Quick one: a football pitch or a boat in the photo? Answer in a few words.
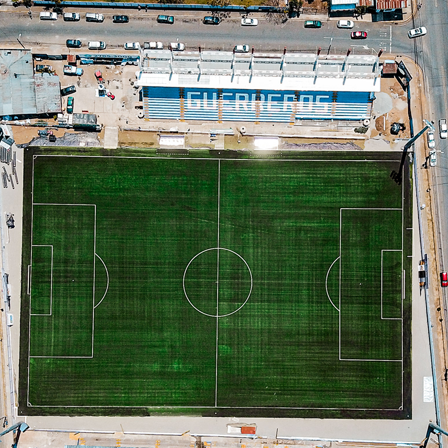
football pitch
